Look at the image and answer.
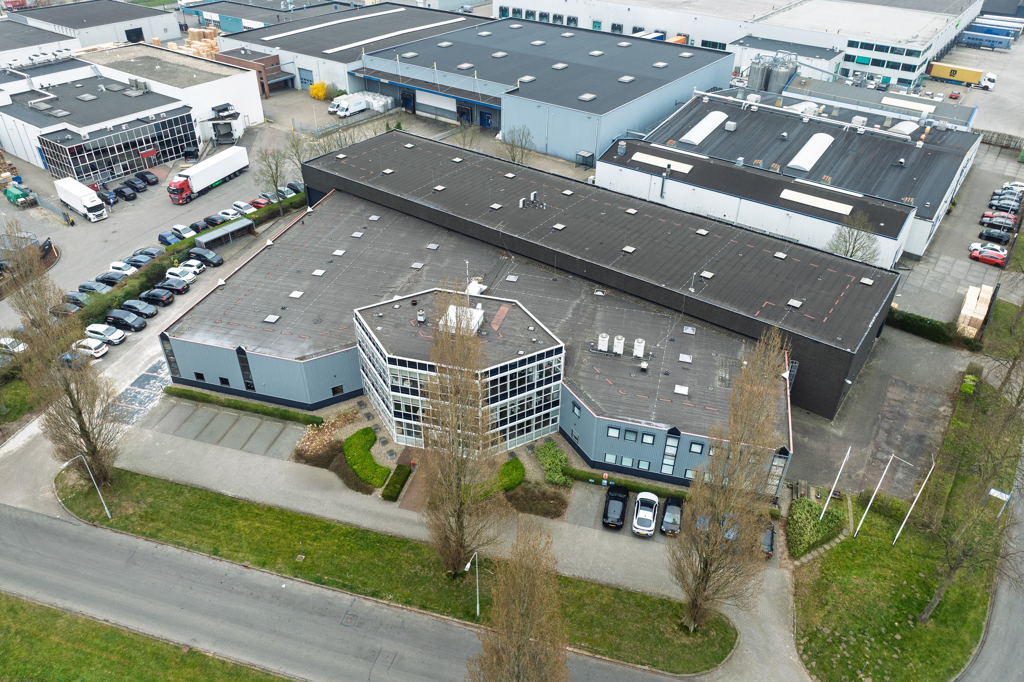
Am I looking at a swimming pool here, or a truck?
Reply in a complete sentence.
I can see a truck in this picture.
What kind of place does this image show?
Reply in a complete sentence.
The picture captures an industrial area.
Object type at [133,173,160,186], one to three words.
vehicle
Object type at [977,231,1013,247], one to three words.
car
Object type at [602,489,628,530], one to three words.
car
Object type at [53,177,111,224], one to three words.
truck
